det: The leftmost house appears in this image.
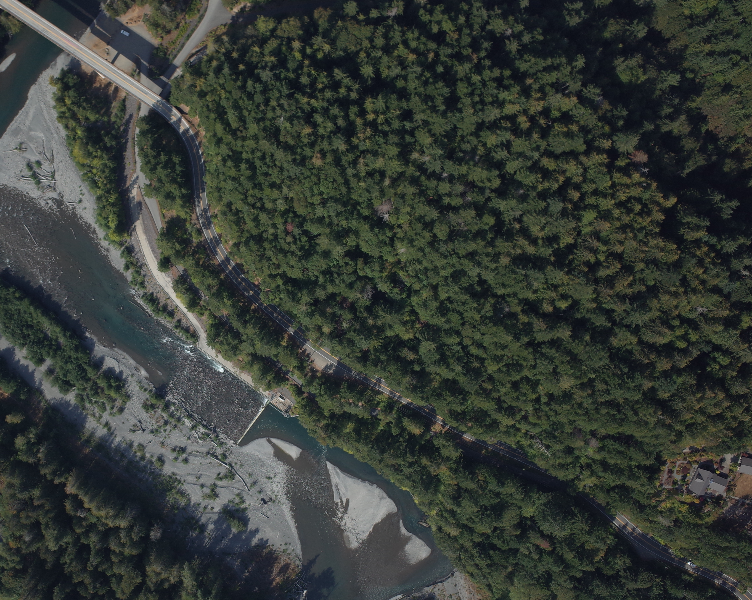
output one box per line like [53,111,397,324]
[687,468,728,496]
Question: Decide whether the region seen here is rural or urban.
rural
